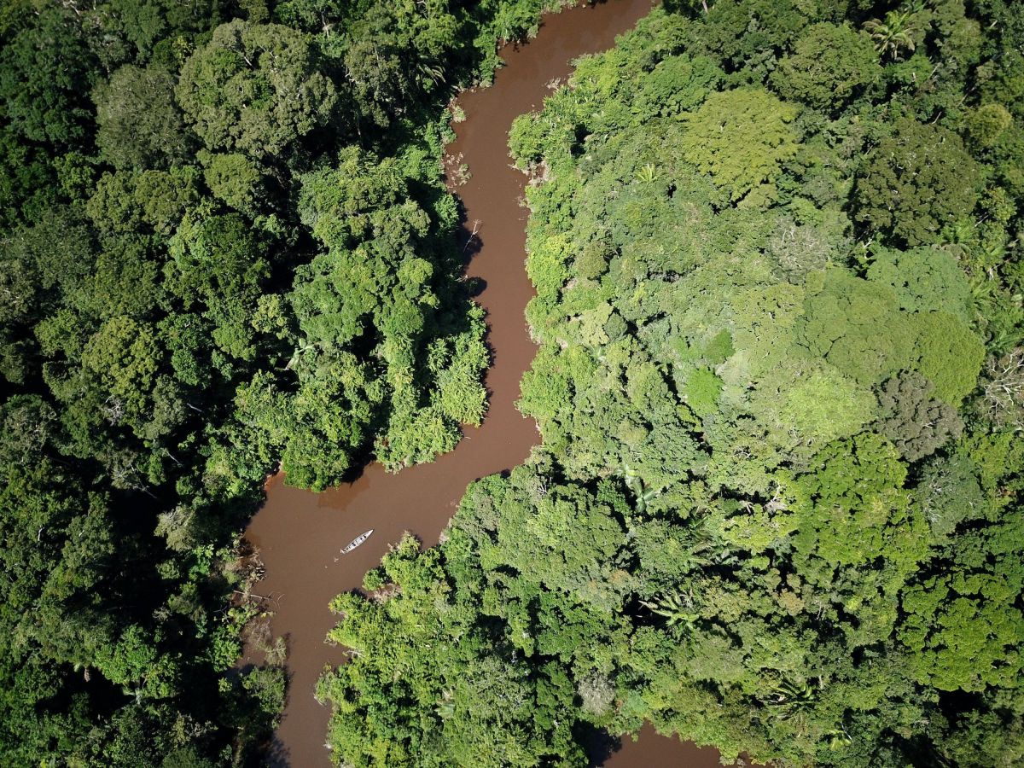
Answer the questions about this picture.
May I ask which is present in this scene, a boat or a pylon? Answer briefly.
boat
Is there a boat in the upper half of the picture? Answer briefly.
No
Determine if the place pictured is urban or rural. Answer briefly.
rural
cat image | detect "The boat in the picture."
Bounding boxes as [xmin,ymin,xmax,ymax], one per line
[338,531,372,555]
